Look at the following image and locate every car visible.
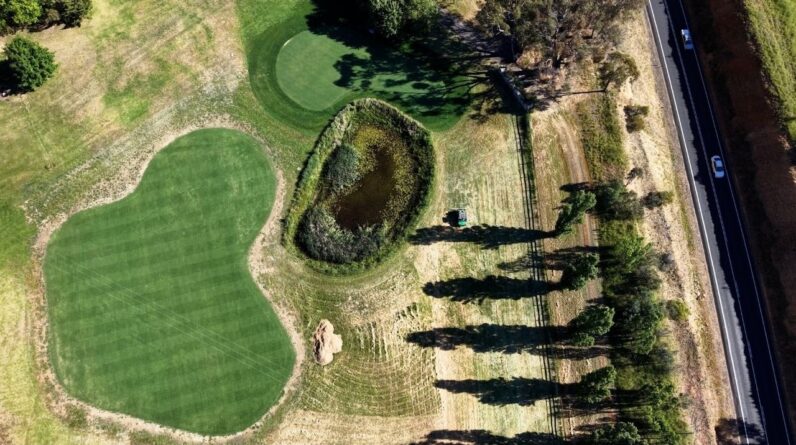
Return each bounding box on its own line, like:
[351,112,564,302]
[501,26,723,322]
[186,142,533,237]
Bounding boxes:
[680,30,693,49]
[709,156,724,179]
